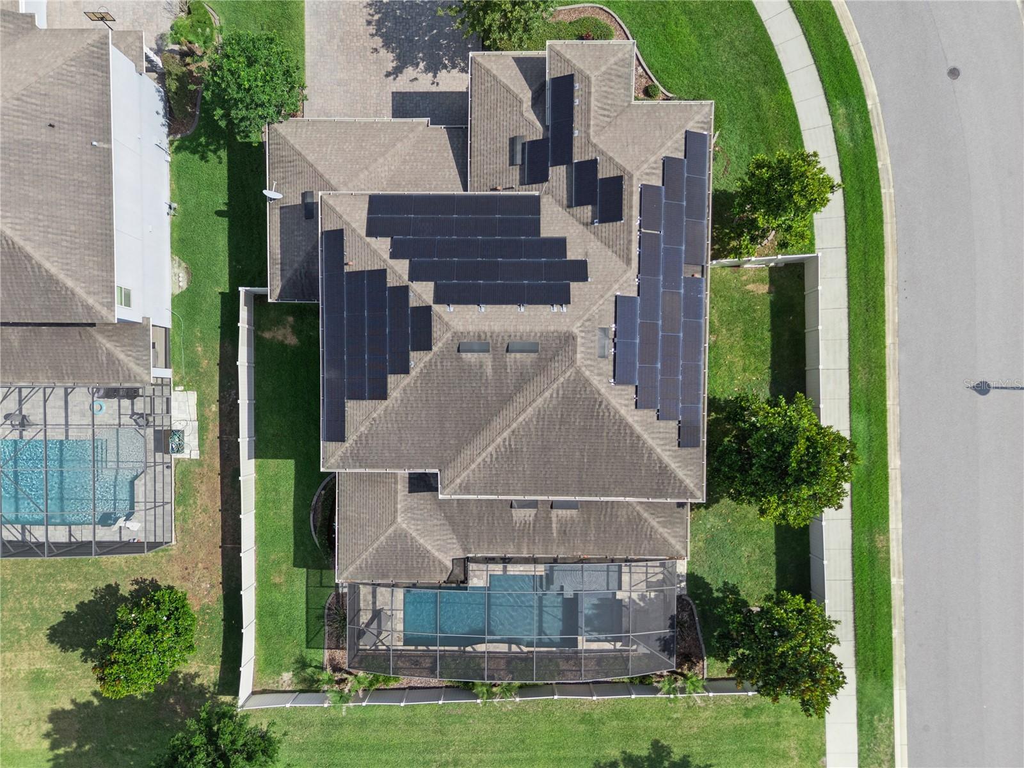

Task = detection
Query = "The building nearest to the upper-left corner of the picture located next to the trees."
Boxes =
[0,0,172,386]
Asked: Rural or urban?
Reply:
urban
